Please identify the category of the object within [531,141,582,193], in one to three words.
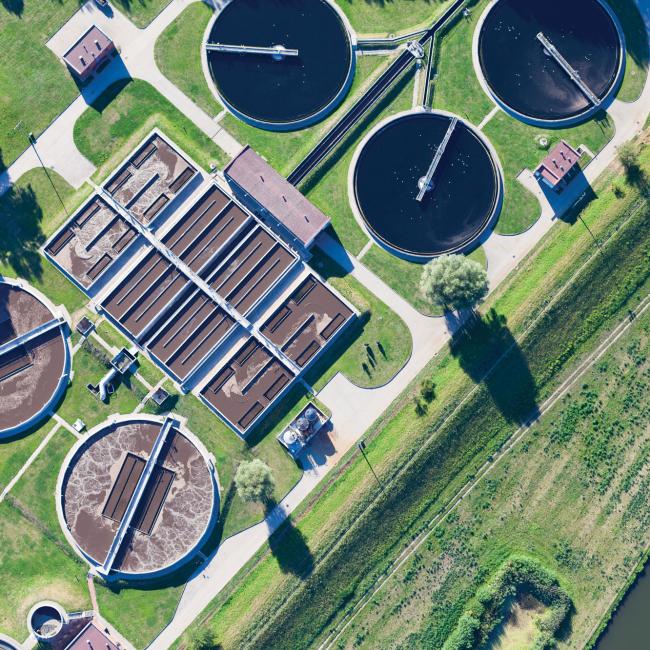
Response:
building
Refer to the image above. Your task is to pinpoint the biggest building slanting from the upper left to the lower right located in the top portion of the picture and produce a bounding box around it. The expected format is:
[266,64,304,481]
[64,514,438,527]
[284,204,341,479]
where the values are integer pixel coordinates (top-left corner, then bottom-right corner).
[223,145,332,251]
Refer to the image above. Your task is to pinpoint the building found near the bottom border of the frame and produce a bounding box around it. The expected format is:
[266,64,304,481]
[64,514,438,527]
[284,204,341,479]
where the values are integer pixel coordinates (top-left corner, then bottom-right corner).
[65,616,125,650]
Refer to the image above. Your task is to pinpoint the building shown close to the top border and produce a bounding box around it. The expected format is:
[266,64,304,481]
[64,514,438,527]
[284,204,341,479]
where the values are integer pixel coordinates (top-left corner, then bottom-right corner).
[63,23,116,80]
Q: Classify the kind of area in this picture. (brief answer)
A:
industrial area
